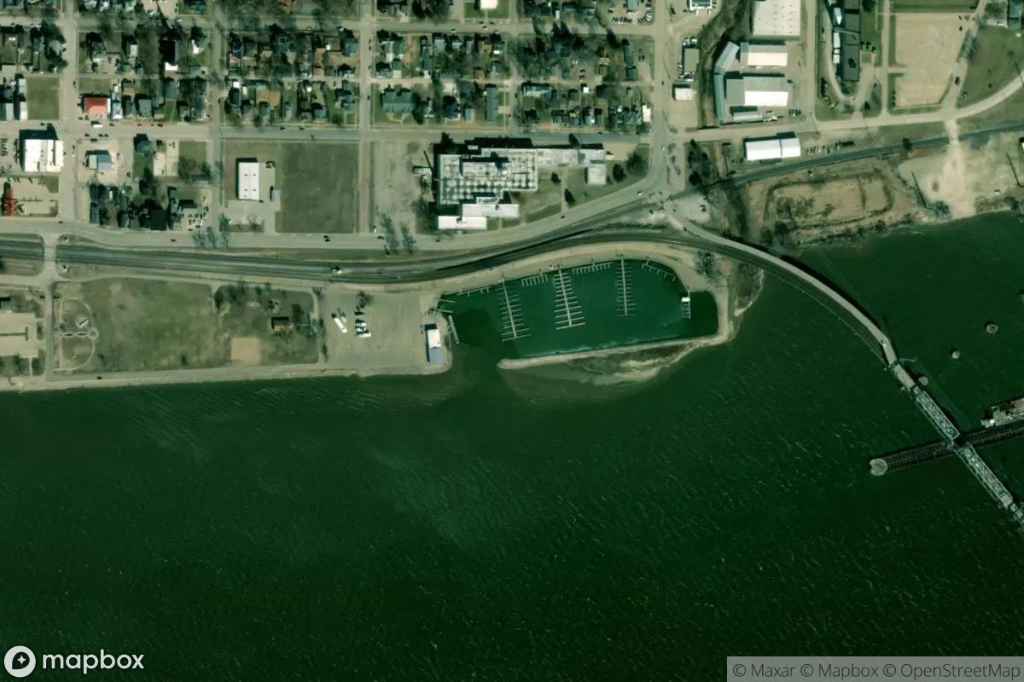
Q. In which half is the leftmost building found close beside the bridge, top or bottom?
top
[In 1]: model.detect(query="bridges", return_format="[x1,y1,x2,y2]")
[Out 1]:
[670,211,1024,530]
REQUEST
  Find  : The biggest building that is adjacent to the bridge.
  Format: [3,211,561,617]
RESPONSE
[438,145,606,204]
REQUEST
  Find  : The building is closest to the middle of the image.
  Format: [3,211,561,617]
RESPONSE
[427,329,444,367]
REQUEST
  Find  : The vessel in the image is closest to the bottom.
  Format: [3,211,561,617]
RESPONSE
[981,398,1024,427]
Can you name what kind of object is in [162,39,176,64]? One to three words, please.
house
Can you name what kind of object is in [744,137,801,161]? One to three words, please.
building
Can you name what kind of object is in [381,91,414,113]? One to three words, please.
house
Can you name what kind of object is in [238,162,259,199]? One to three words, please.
building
